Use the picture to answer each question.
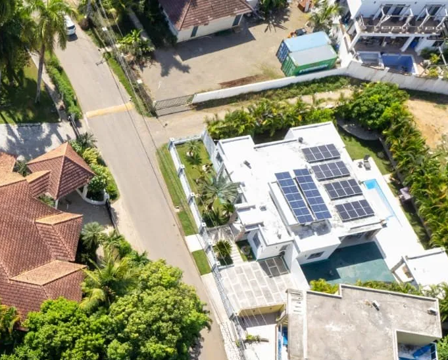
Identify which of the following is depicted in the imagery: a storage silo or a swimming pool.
swimming pool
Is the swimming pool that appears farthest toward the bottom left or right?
right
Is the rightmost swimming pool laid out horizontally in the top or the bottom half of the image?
top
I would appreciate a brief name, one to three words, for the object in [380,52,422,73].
swimming pool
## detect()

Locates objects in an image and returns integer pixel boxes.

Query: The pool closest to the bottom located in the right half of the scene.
[298,239,399,290]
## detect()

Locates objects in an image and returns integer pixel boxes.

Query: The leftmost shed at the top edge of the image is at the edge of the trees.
[161,0,255,46]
